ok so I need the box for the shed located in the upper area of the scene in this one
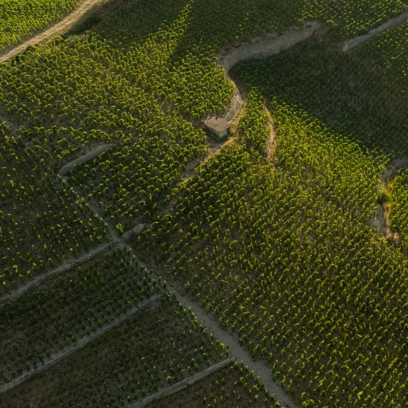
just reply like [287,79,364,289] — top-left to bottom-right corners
[199,117,234,144]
